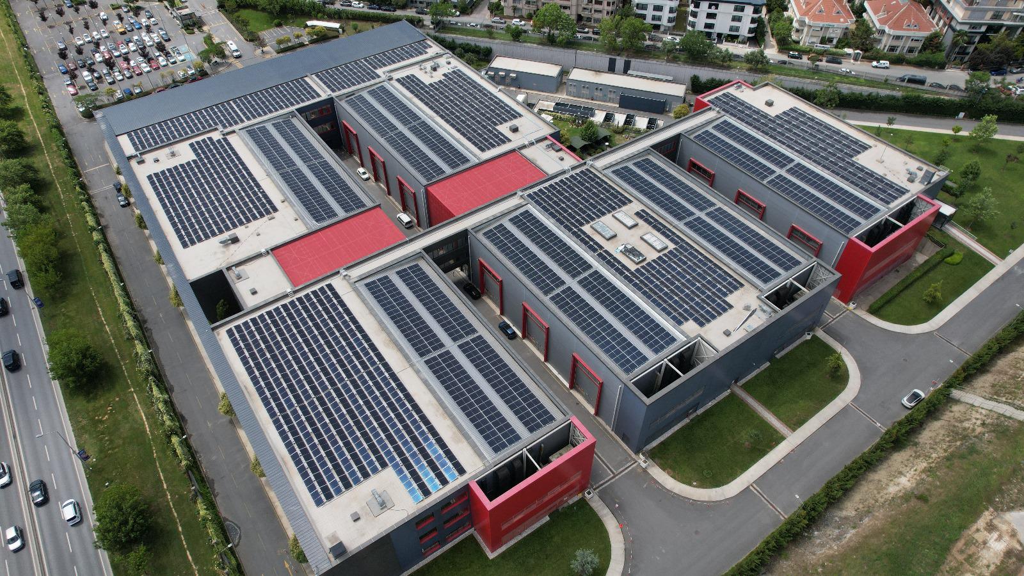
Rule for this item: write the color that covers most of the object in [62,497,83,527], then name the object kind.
white car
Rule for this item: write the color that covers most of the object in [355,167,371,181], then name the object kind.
white car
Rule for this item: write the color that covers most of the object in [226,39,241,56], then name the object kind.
white vehicle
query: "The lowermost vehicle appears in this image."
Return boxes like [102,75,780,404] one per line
[5,523,26,555]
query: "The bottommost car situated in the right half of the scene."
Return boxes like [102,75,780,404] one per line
[899,388,926,410]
